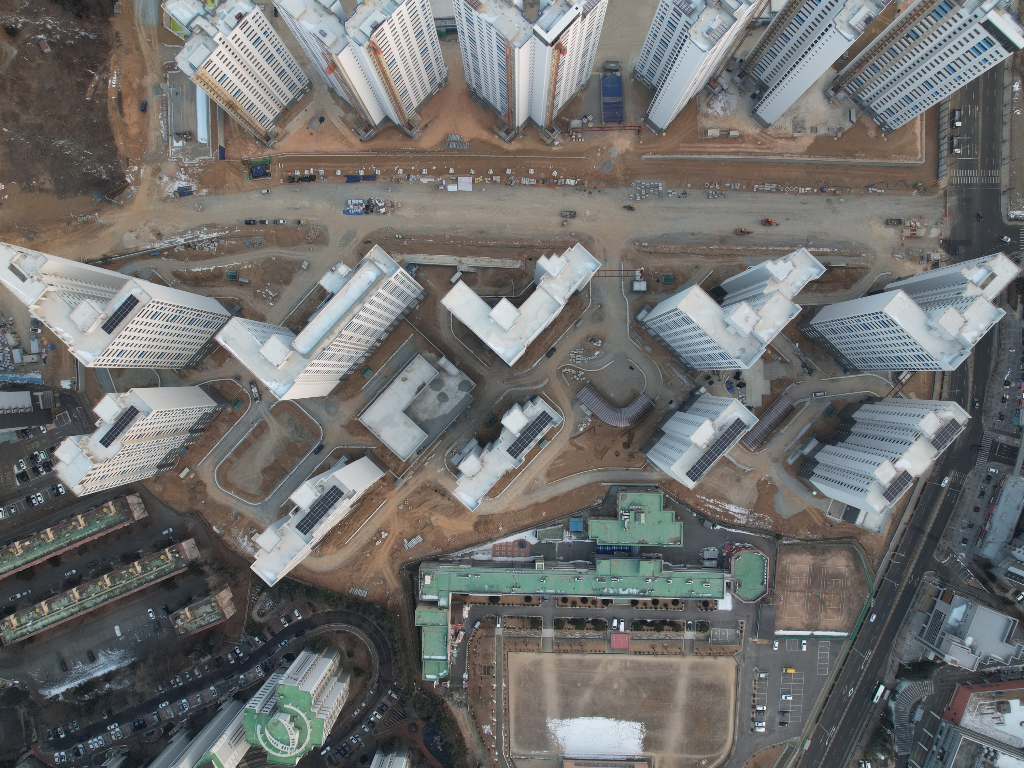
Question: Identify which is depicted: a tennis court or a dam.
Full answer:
I can see a tennis court in this picture.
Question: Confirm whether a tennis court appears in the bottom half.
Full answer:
Yes, there is a tennis court in the bottom half.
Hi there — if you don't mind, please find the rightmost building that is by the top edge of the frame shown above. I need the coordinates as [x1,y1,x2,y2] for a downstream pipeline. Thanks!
[836,0,1024,132]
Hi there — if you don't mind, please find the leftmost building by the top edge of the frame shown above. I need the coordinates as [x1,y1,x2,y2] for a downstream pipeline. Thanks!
[161,0,318,150]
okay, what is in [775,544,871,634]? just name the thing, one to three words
tennis court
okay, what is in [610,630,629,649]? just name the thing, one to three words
shed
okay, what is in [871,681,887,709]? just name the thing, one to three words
vehicle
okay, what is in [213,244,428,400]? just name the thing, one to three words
building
